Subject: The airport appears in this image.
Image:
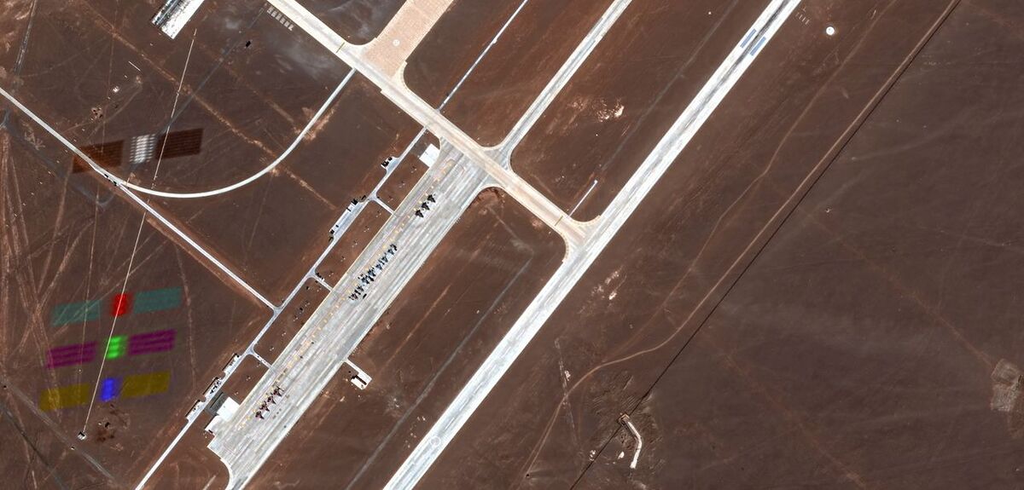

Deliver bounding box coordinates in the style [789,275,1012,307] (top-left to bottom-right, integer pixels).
[204,0,801,490]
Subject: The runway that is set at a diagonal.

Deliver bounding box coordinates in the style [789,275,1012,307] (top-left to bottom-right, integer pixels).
[384,0,801,490]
